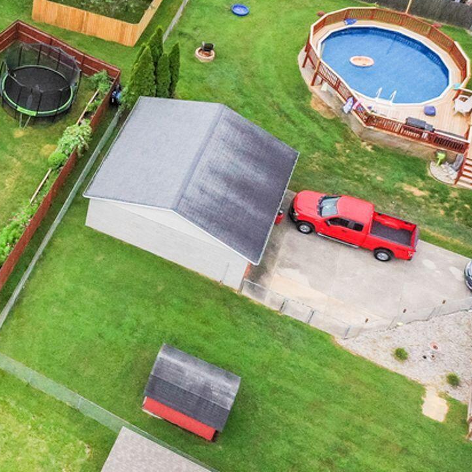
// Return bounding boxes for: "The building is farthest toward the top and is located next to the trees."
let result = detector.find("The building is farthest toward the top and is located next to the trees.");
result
[82,96,298,286]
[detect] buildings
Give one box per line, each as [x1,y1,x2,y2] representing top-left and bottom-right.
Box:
[140,348,235,443]
[82,96,298,286]
[105,427,225,472]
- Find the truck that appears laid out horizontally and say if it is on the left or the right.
right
